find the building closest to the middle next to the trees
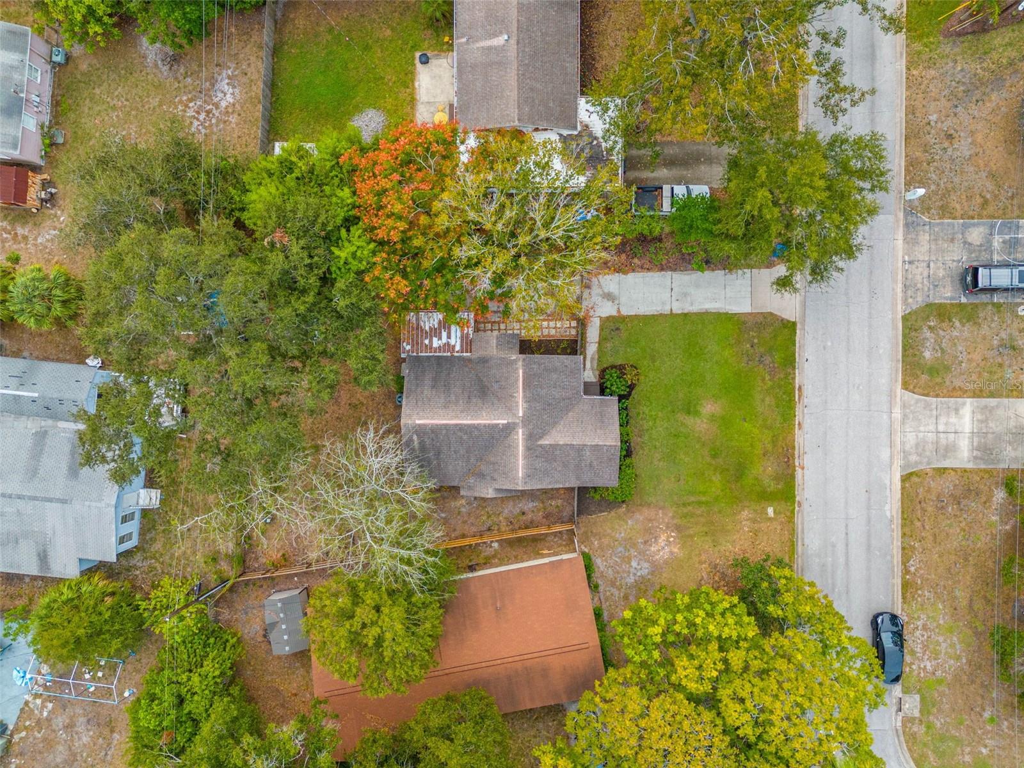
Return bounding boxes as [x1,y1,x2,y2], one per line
[401,333,620,497]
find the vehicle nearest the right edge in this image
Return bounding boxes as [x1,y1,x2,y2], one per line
[963,261,1024,296]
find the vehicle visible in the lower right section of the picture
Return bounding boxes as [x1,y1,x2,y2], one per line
[869,612,907,682]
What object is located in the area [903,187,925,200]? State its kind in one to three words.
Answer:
boat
